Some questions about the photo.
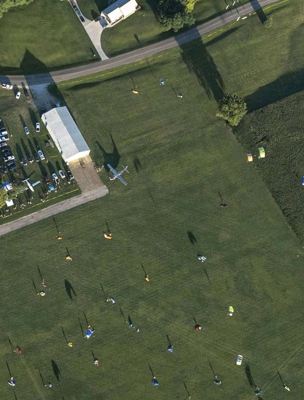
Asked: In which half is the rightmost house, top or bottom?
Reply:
top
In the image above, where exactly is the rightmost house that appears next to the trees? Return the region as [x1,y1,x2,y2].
[104,2,143,27]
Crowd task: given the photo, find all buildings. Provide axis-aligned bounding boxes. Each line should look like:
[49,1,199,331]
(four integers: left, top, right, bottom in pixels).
[38,108,91,165]
[104,2,143,27]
